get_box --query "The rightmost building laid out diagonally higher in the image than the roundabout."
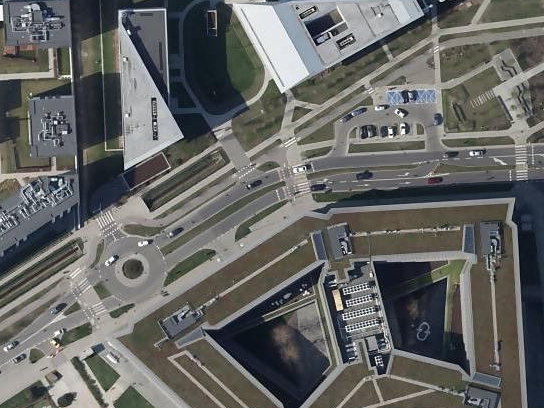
[128,152,170,192]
